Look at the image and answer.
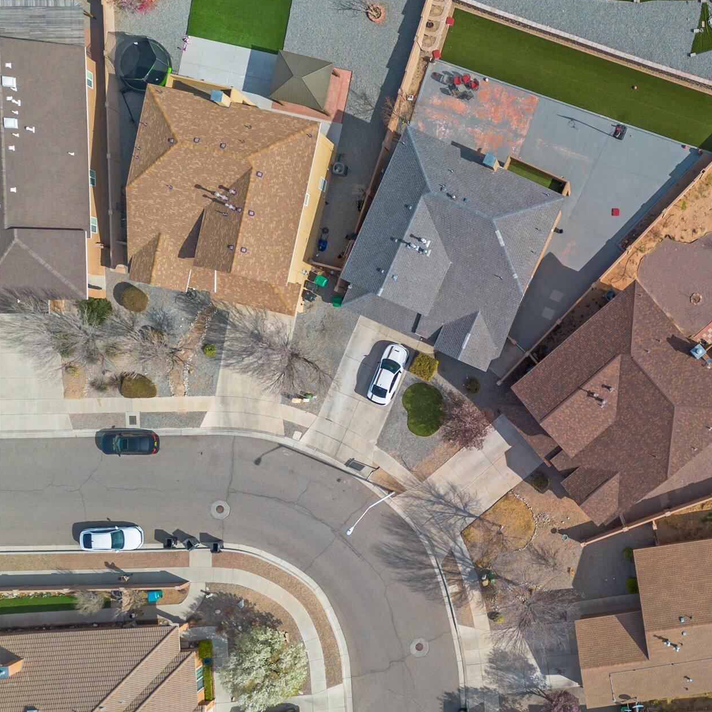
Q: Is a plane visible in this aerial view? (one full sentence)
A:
No, no plane is visible in the view.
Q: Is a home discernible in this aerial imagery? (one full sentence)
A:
Yes, a home can be made out from above.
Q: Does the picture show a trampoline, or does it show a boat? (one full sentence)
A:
It is a trampoline that can be seen here.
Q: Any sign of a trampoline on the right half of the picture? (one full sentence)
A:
No, no trampoline is visible on the right half of the picture.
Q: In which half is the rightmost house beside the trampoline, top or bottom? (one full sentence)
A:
Seen from above, the rightmost house beside the trampoline lies in the top half of the view.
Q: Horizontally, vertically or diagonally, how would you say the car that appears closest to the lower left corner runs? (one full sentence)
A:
What the image shows is the car that appears closest to the lower left corner lying horizontally.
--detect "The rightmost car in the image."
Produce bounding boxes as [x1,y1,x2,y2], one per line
[367,343,409,406]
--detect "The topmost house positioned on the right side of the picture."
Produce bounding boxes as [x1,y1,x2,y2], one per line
[341,126,570,371]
